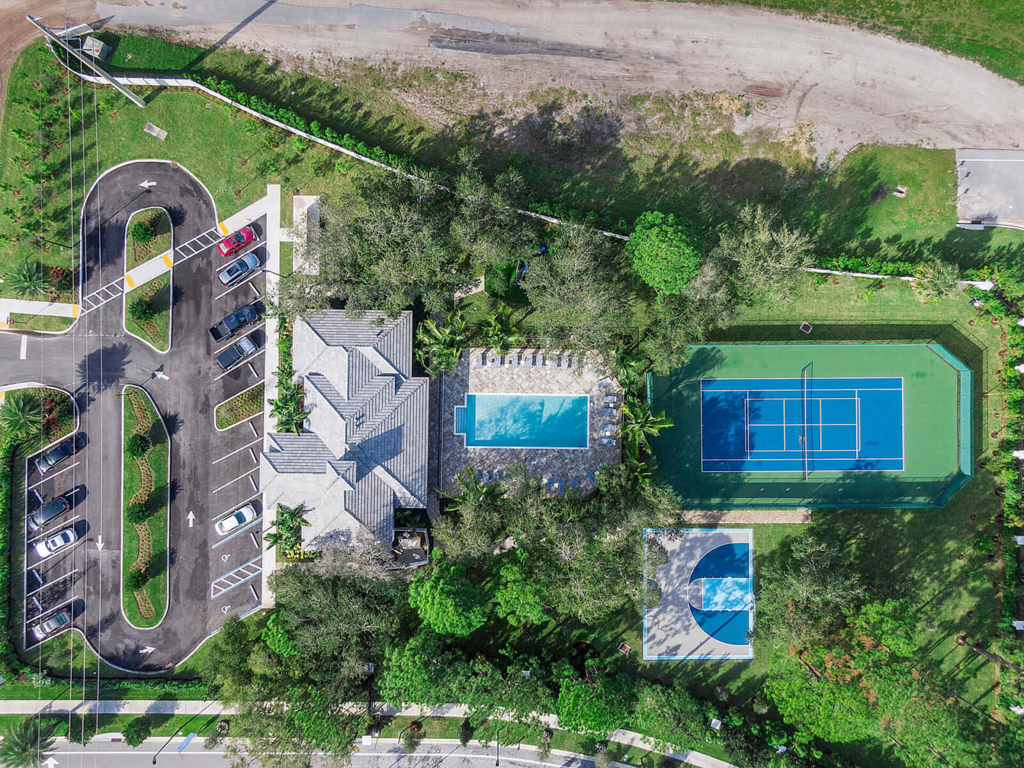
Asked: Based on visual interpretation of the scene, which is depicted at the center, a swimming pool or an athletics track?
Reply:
swimming pool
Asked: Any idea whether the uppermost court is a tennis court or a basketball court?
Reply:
tennis court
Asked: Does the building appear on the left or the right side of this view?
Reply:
left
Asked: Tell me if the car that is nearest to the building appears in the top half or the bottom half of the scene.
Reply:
bottom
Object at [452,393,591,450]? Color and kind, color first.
blue swimming pool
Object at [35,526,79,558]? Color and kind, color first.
white car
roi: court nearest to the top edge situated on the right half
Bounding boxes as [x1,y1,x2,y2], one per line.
[646,345,959,504]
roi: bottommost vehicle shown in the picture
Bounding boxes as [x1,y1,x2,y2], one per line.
[32,608,74,640]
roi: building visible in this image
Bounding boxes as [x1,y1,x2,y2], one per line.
[259,309,429,554]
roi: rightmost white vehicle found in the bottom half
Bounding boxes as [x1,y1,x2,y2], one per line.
[214,503,258,536]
